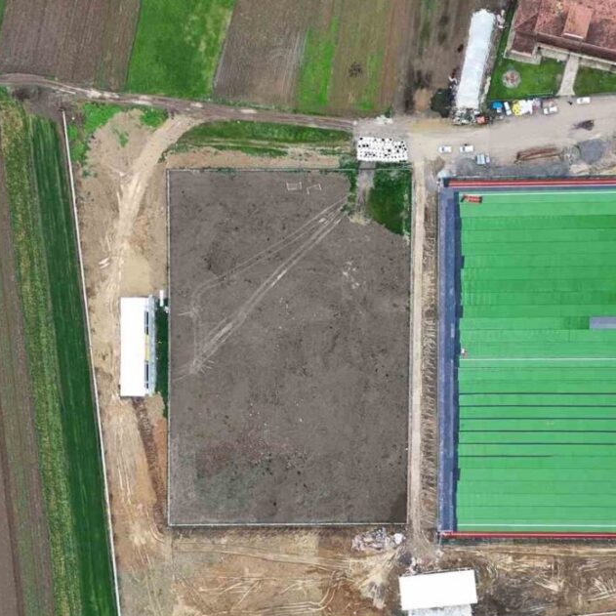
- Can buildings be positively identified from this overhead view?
Yes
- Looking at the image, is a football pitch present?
Yes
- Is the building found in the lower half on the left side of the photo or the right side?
right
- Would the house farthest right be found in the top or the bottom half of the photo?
top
